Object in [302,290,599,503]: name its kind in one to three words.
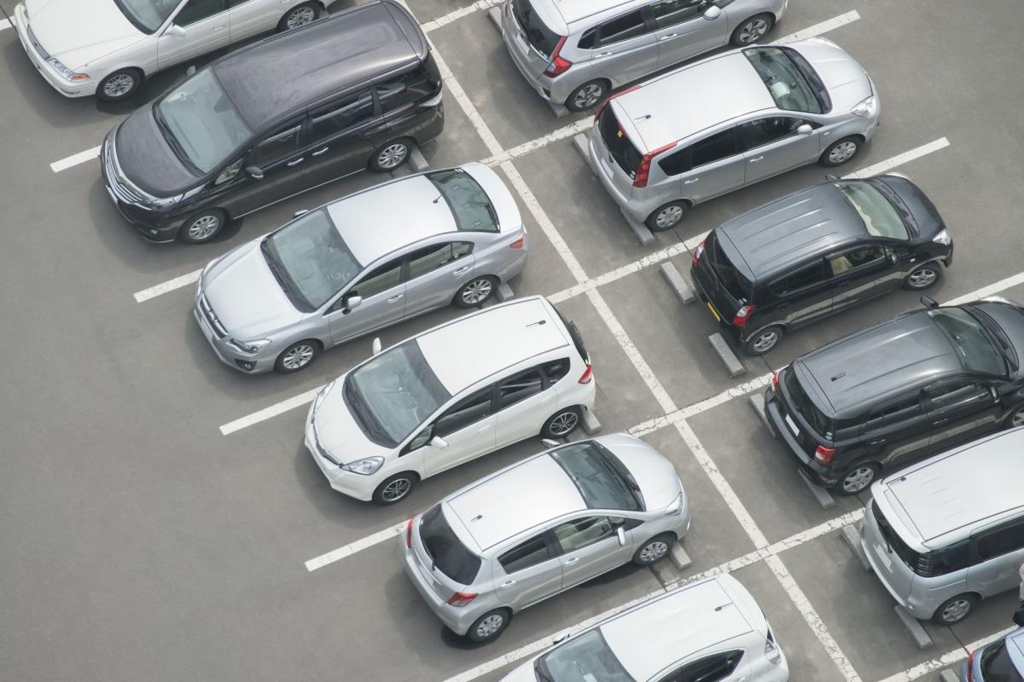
car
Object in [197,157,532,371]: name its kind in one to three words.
car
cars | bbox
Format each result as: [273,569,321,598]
[860,426,1024,626]
[764,297,1024,494]
[302,290,599,503]
[95,4,443,242]
[969,625,1024,682]
[693,177,949,355]
[197,157,532,371]
[505,0,786,108]
[492,573,786,682]
[586,43,873,230]
[17,0,344,101]
[406,435,692,639]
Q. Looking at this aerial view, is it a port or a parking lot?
parking lot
